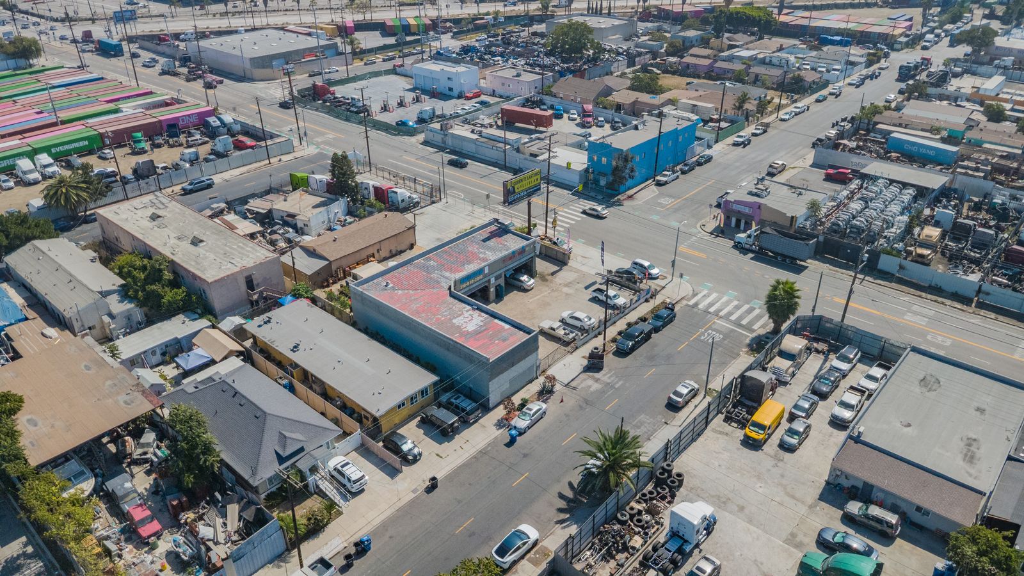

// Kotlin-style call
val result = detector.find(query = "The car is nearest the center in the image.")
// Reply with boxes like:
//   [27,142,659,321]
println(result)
[502,271,537,290]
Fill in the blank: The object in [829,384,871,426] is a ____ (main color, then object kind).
white truck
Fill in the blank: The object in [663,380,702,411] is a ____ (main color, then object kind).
gray car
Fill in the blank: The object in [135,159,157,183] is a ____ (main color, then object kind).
black truck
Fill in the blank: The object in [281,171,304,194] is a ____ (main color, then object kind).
green truck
